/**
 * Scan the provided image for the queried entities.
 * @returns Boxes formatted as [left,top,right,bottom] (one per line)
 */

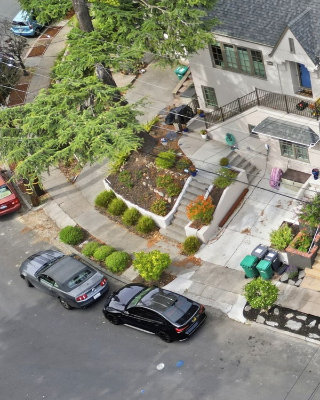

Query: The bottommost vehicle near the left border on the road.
[16,249,109,310]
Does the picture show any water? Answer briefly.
No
